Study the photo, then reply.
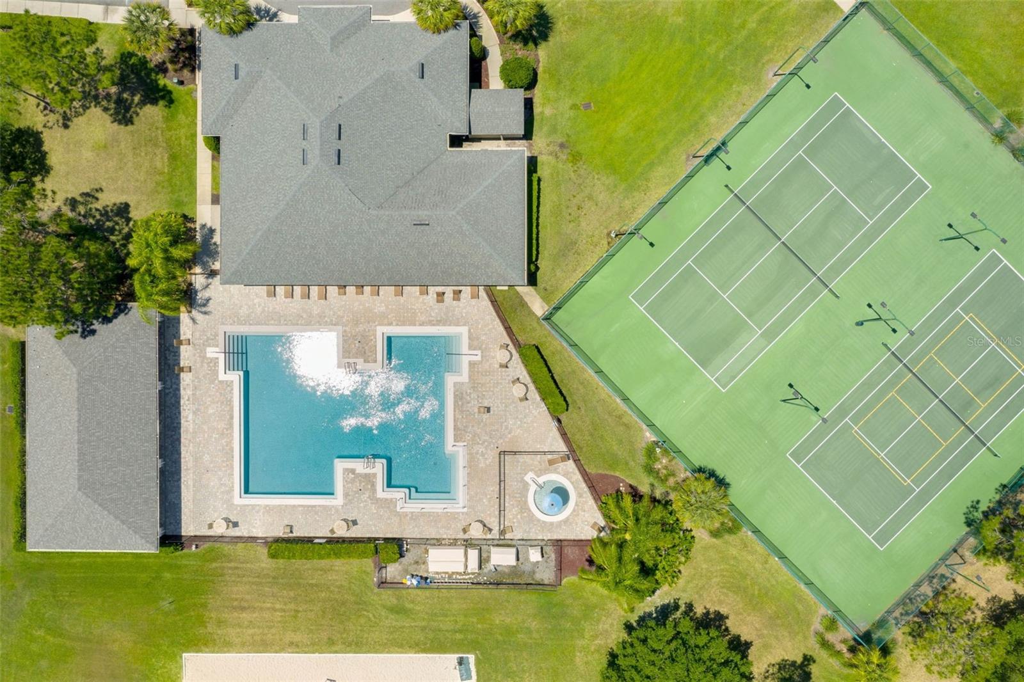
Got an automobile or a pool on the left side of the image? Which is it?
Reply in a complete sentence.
Looking on the left side of the image, you will find a pool.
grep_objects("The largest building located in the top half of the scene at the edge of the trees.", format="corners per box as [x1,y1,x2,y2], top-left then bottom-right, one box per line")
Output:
[200,6,528,286]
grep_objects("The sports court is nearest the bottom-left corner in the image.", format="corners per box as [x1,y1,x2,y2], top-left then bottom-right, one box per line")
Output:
[182,653,475,682]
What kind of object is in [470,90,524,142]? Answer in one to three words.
shed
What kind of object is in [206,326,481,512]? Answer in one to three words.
swimming pool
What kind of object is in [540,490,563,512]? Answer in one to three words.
fountain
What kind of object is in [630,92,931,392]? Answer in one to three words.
tennis court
